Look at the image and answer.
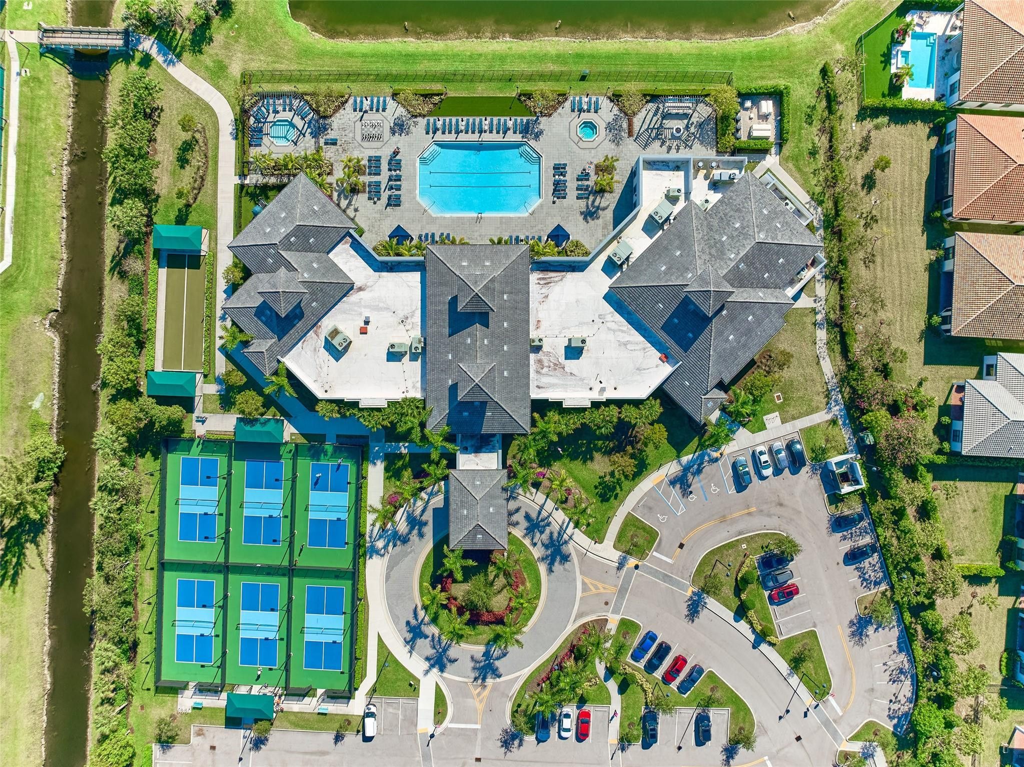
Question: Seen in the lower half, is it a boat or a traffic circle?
traffic circle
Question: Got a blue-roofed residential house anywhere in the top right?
No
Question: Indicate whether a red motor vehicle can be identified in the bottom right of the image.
Yes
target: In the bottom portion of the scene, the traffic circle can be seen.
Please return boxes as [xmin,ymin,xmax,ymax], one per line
[384,492,579,682]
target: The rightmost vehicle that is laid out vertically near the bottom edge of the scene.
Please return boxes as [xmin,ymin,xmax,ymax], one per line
[697,709,712,746]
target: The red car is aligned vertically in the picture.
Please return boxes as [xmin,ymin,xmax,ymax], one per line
[577,708,592,739]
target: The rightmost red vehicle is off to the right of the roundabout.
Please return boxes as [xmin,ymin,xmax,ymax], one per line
[768,583,800,602]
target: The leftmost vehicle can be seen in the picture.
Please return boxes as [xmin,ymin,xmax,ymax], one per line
[363,703,378,736]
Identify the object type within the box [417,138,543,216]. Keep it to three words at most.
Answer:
swimming pool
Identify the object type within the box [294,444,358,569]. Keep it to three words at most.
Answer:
sports court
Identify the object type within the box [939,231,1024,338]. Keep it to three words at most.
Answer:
house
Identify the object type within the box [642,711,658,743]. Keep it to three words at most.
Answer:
car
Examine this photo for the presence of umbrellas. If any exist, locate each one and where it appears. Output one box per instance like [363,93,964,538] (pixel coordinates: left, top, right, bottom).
[388,220,415,245]
[546,222,571,244]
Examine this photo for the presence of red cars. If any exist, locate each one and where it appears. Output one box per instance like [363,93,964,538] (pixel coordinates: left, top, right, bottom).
[577,708,592,739]
[661,653,688,684]
[768,583,800,602]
